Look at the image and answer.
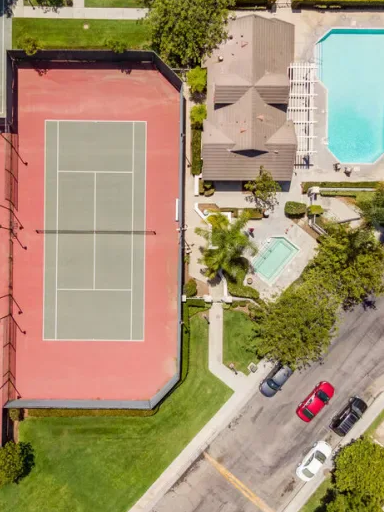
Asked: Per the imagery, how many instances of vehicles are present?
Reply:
4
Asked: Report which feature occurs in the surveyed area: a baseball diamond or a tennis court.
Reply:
tennis court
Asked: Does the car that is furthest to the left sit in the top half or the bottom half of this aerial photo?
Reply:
bottom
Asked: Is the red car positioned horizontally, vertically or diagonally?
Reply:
diagonally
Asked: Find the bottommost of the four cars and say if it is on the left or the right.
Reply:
right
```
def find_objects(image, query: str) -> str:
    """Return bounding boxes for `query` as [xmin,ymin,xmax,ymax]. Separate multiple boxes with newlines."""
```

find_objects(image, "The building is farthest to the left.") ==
[200,13,297,181]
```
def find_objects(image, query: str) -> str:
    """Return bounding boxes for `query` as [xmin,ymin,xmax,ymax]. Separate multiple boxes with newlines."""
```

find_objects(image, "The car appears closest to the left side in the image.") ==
[258,360,297,397]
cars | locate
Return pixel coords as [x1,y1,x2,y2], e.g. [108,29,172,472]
[329,396,369,439]
[258,360,297,397]
[296,381,334,423]
[295,441,331,483]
